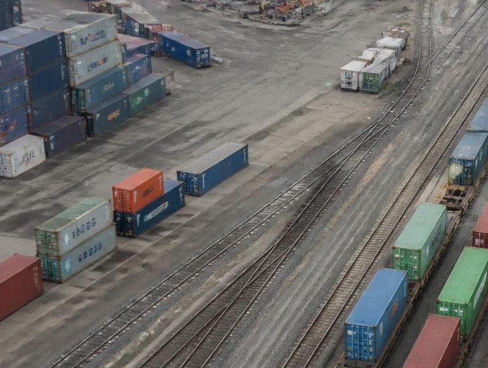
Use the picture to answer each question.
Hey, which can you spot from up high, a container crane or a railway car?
railway car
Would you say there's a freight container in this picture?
Yes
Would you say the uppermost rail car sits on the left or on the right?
right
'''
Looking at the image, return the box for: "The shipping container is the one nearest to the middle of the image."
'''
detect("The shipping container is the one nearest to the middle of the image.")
[178,142,249,196]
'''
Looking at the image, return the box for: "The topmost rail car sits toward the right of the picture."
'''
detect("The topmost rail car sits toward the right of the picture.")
[436,159,488,206]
